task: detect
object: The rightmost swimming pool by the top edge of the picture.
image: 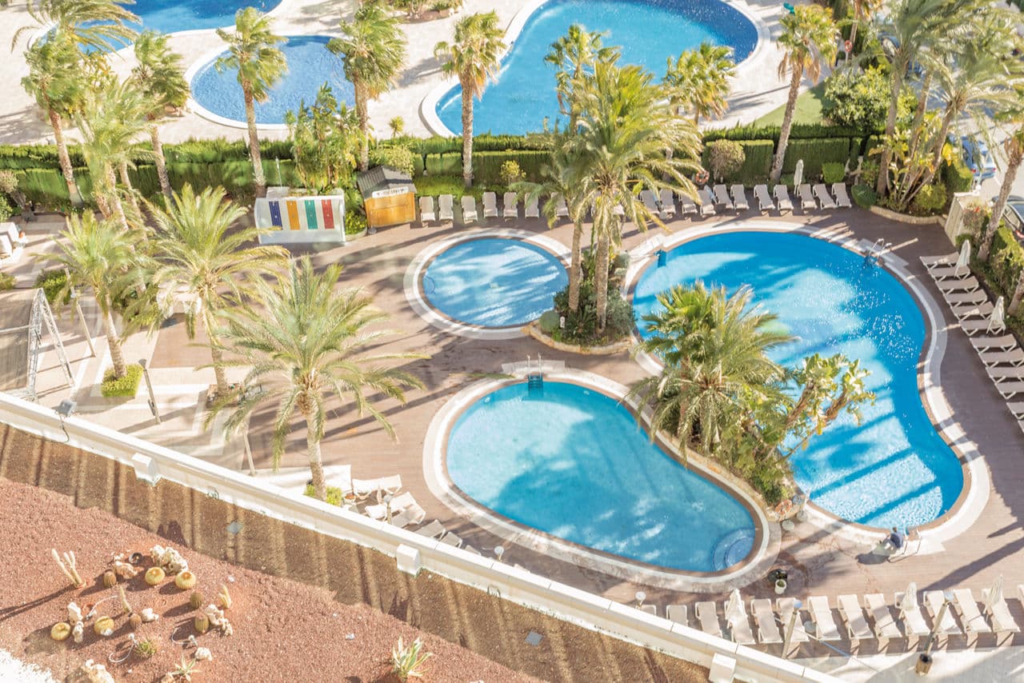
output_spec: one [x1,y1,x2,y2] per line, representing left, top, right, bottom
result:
[436,0,757,127]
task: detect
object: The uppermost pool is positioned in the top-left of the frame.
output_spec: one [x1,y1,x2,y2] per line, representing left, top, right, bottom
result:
[47,0,280,54]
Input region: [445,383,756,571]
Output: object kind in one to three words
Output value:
swimming pool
